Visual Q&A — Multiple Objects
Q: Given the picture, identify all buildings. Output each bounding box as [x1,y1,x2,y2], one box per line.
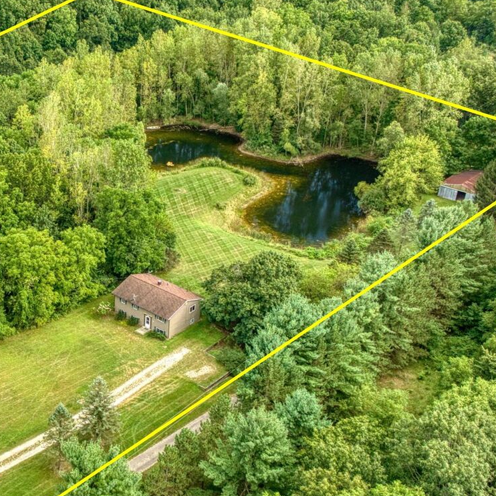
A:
[439,172,491,207]
[114,273,198,338]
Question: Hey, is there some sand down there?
No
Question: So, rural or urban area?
rural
